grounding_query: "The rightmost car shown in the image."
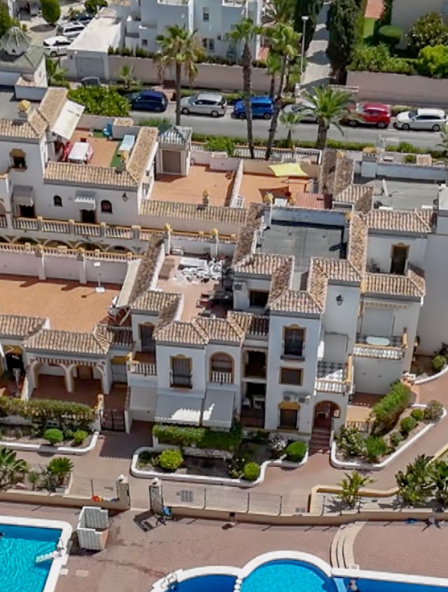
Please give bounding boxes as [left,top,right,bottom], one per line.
[396,107,448,131]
